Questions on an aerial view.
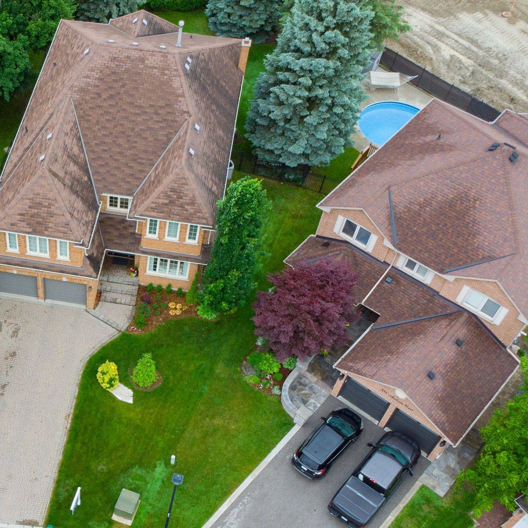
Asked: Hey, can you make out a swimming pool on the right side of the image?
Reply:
Yes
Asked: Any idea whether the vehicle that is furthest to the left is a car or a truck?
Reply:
car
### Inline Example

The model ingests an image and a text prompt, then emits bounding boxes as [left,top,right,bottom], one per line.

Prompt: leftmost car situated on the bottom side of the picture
[291,407,366,488]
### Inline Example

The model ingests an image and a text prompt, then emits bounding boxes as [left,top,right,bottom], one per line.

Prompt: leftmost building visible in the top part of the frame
[0,4,260,312]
